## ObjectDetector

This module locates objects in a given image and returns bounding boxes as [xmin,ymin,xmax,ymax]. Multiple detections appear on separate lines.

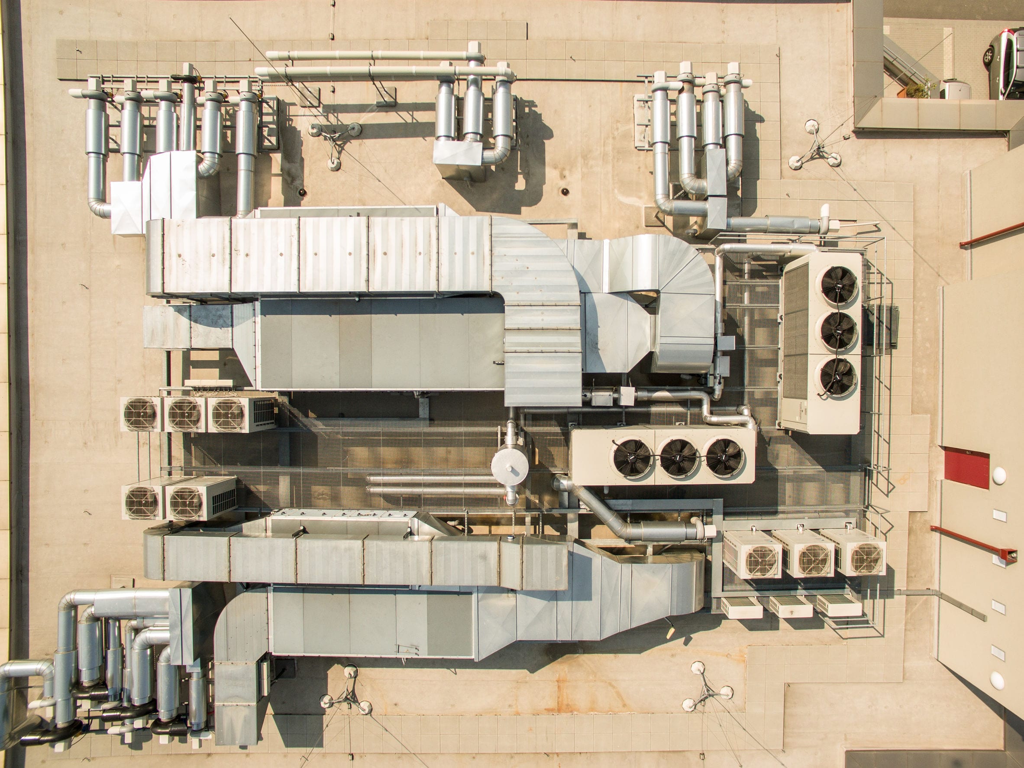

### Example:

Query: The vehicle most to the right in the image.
[978,25,1024,102]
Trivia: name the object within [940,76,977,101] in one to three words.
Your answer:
car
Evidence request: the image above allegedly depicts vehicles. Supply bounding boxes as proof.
[940,76,977,101]
[978,25,1024,102]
